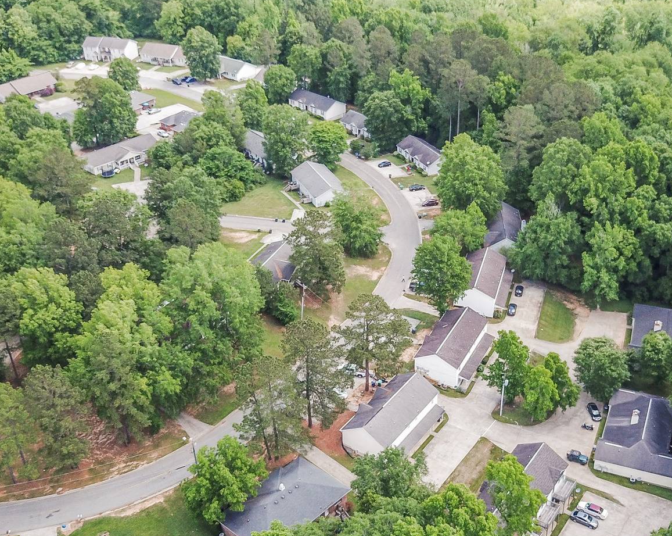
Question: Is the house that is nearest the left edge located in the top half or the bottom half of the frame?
top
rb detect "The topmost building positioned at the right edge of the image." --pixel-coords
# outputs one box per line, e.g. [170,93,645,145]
[629,300,672,360]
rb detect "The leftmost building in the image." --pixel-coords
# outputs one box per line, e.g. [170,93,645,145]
[0,72,57,107]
